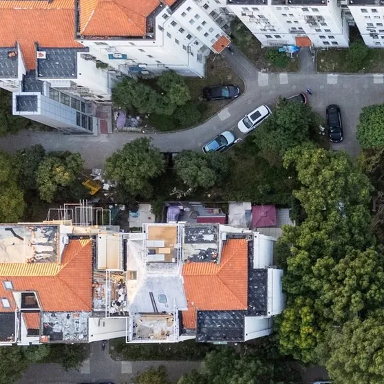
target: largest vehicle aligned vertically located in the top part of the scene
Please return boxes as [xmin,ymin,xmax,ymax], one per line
[326,104,343,142]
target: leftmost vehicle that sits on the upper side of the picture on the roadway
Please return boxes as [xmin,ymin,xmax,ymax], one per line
[204,130,234,153]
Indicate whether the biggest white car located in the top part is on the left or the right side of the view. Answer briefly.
right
